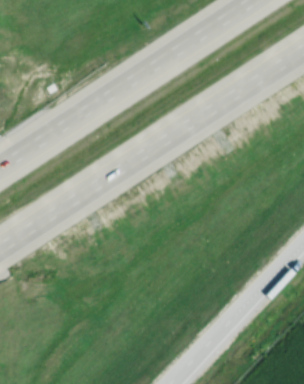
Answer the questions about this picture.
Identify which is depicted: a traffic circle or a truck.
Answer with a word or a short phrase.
truck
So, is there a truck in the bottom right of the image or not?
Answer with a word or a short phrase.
Yes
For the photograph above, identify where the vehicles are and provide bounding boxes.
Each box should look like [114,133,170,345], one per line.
[266,262,298,300]
[106,171,118,181]
[0,160,9,168]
